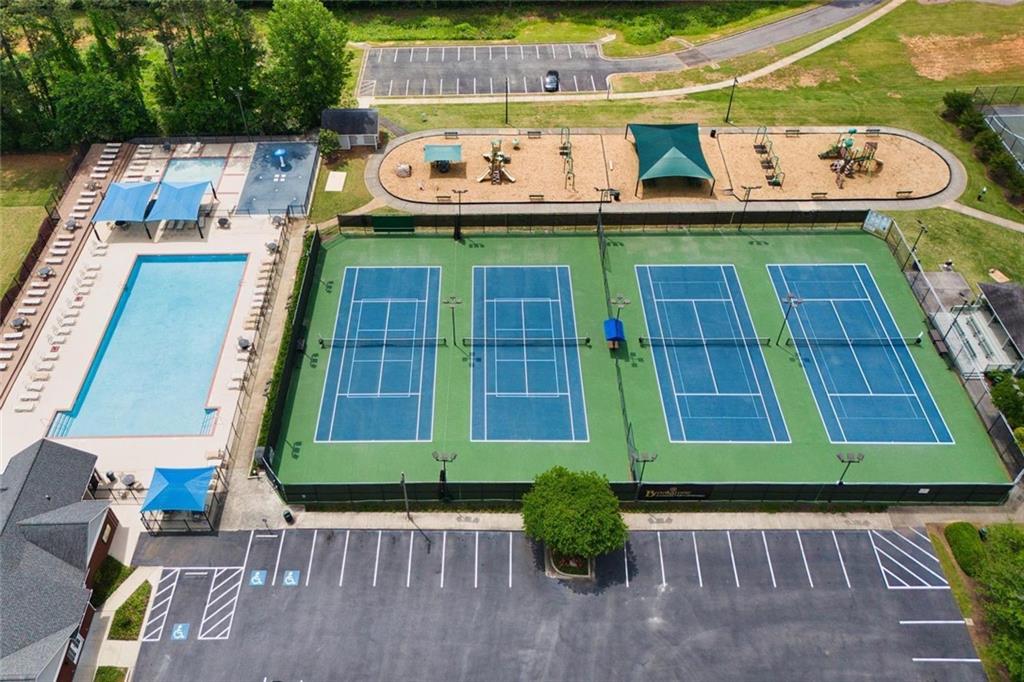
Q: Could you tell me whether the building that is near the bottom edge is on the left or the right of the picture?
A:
left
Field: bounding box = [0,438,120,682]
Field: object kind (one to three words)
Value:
building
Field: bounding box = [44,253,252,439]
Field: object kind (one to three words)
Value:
swimming pool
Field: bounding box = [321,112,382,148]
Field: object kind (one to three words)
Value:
shed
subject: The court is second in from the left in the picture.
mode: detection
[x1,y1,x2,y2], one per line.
[470,265,589,442]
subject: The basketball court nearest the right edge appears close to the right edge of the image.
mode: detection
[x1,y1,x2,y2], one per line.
[976,105,1024,166]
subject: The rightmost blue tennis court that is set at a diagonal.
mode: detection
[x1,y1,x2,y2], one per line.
[766,264,955,443]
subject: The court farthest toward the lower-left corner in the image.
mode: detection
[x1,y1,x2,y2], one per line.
[314,266,442,442]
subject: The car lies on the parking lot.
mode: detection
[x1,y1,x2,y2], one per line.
[545,70,560,90]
